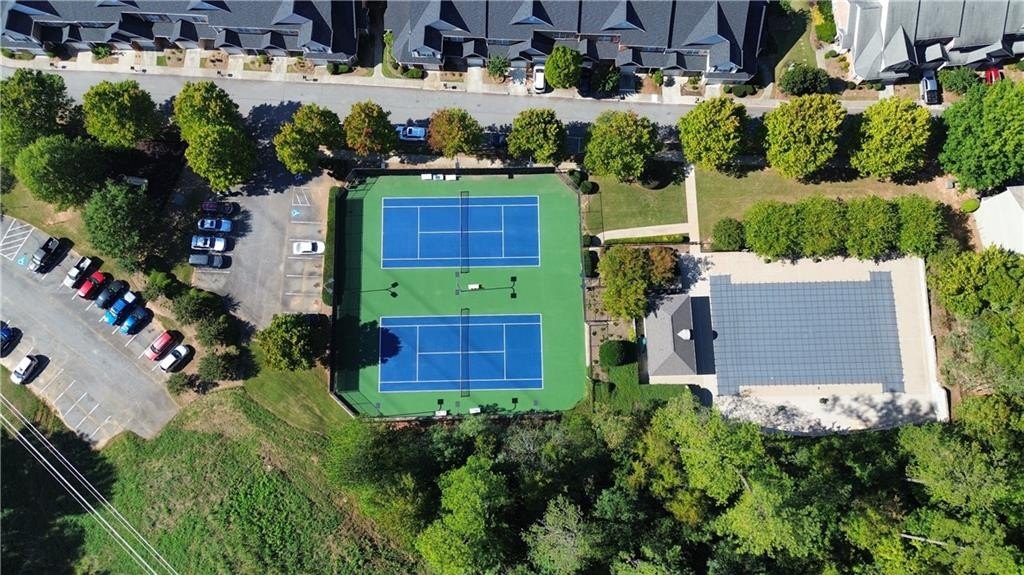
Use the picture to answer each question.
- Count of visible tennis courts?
2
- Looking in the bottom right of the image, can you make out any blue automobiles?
No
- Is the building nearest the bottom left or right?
right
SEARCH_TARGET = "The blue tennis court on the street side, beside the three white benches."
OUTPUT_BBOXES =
[341,174,584,291]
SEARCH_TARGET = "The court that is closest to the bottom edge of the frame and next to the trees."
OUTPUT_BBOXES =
[338,291,589,418]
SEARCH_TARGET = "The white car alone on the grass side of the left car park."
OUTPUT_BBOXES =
[10,352,38,385]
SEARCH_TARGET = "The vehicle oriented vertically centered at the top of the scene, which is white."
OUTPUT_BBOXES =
[532,64,546,94]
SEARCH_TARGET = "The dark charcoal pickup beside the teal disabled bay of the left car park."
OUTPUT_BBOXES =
[27,237,61,273]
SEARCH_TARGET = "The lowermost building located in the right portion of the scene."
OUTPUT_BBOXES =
[644,294,697,376]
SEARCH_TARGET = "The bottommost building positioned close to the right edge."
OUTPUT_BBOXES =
[964,184,1024,258]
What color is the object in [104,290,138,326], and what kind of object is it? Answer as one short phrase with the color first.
blue truck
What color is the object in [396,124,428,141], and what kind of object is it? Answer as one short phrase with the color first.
blue car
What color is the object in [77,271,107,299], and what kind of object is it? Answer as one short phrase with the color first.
red car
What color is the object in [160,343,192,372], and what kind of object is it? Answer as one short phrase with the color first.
white car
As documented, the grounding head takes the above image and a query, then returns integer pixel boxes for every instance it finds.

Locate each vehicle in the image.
[191,235,228,251]
[61,255,95,291]
[532,64,546,94]
[104,290,138,326]
[121,305,150,337]
[27,237,61,273]
[921,68,940,105]
[197,218,233,233]
[482,131,512,148]
[293,240,323,256]
[160,343,192,372]
[396,124,428,141]
[145,328,176,362]
[0,323,18,352]
[77,271,107,299]
[10,352,38,385]
[96,279,125,309]
[188,253,224,270]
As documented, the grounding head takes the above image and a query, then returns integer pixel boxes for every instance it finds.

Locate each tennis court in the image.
[338,291,589,418]
[341,174,584,291]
